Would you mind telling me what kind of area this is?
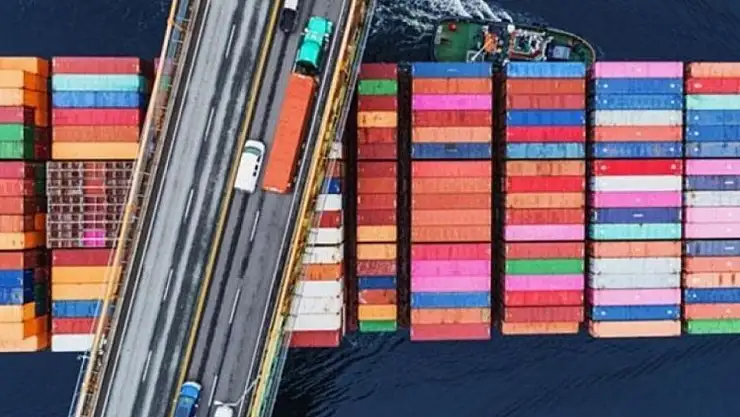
port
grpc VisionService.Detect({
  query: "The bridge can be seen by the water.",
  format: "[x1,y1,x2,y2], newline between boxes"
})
[63,0,381,417]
